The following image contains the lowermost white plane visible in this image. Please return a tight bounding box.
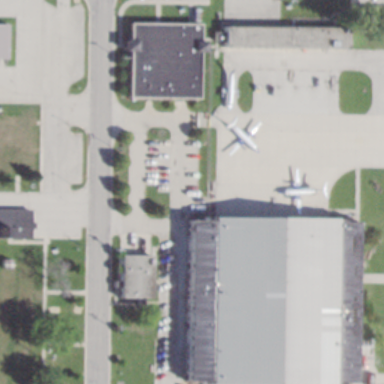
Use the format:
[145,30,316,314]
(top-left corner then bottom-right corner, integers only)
[283,170,329,212]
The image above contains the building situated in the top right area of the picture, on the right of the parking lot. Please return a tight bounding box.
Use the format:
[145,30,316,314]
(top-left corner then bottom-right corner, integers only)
[218,26,348,51]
